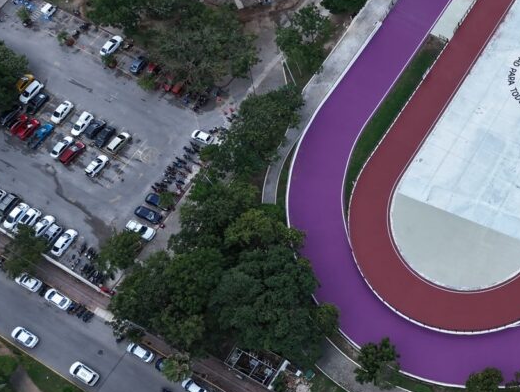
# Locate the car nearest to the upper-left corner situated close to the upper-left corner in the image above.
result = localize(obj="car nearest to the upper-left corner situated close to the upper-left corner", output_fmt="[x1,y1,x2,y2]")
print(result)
[35,0,60,19]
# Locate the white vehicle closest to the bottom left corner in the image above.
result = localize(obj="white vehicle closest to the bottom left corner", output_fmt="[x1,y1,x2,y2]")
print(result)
[9,325,40,349]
